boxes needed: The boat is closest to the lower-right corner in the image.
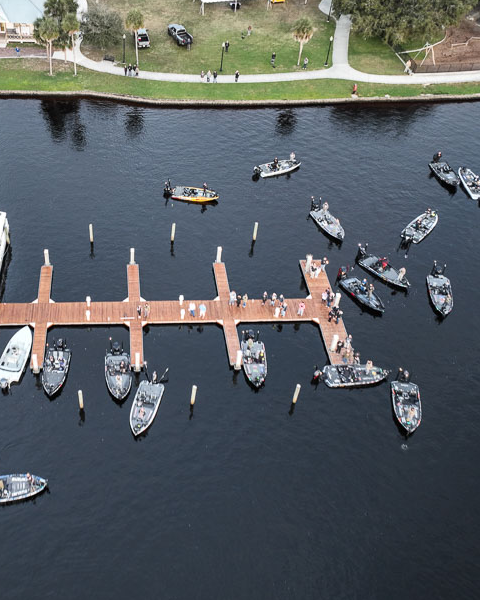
[393,367,421,435]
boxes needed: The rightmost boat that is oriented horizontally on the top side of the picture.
[256,158,303,178]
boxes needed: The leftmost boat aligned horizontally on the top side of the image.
[166,177,221,203]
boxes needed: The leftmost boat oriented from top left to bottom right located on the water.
[308,198,346,242]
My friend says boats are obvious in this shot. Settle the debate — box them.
[308,198,346,242]
[0,475,48,505]
[41,334,70,398]
[458,164,480,202]
[256,158,303,178]
[430,154,463,191]
[0,324,33,390]
[130,367,170,437]
[166,177,221,203]
[340,265,388,316]
[393,367,421,435]
[242,326,267,390]
[106,340,131,404]
[398,209,439,247]
[317,360,389,388]
[428,262,452,317]
[360,244,413,291]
